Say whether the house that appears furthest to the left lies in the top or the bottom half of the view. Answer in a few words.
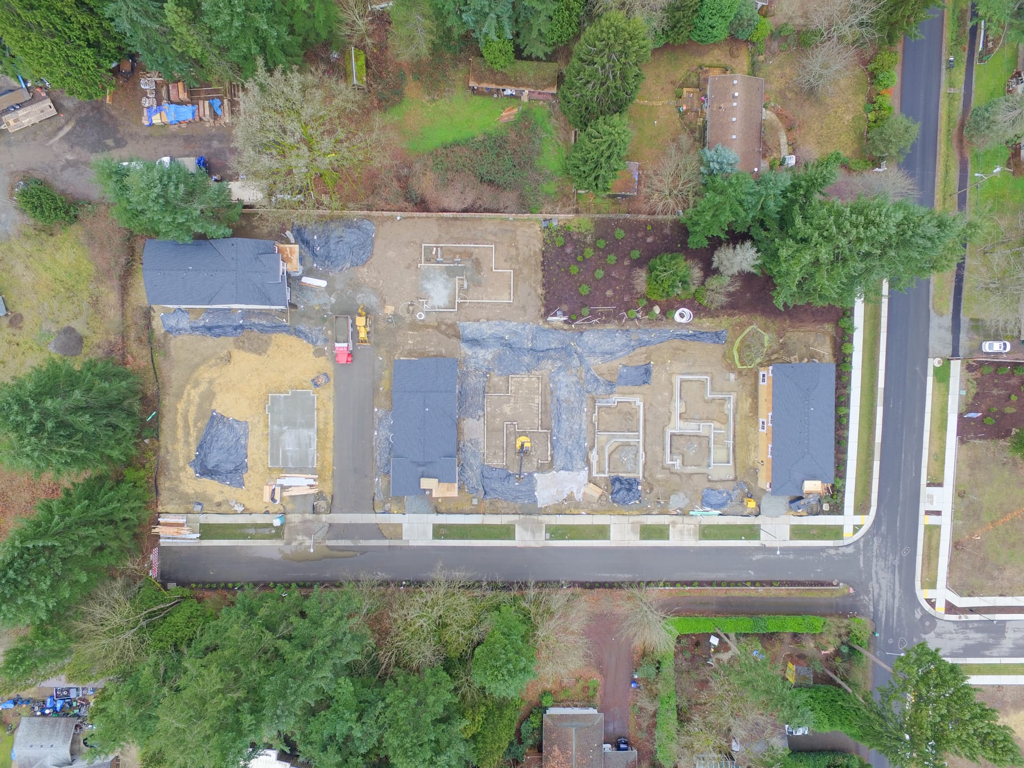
bottom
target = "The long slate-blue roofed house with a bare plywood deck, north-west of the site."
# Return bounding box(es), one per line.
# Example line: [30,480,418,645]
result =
[138,237,296,309]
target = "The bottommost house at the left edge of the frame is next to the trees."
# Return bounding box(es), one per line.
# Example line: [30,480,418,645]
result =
[8,714,110,768]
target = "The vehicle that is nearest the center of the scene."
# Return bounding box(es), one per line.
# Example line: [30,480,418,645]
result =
[516,435,531,492]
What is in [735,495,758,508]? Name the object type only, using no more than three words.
vehicle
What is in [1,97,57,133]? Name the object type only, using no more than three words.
trailer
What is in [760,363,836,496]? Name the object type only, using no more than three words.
house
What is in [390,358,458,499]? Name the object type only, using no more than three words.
house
